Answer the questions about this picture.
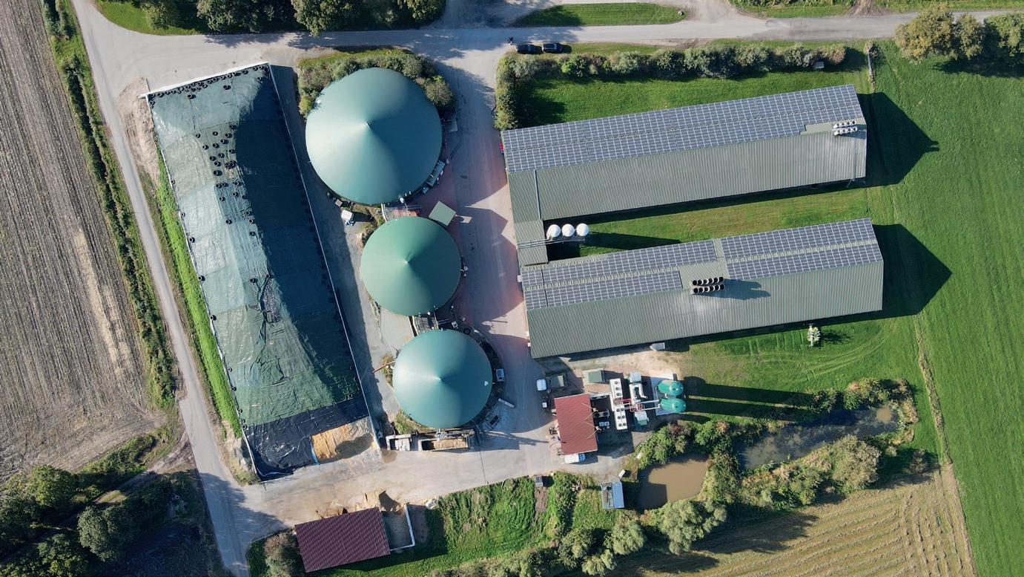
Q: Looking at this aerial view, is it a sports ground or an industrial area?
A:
industrial area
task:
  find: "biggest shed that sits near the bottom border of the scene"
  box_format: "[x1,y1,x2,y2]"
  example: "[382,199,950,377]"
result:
[296,505,390,571]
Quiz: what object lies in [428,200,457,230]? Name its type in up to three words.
shed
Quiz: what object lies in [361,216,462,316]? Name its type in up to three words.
storage tank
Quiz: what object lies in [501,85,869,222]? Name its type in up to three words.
barn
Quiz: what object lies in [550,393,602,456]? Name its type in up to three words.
house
